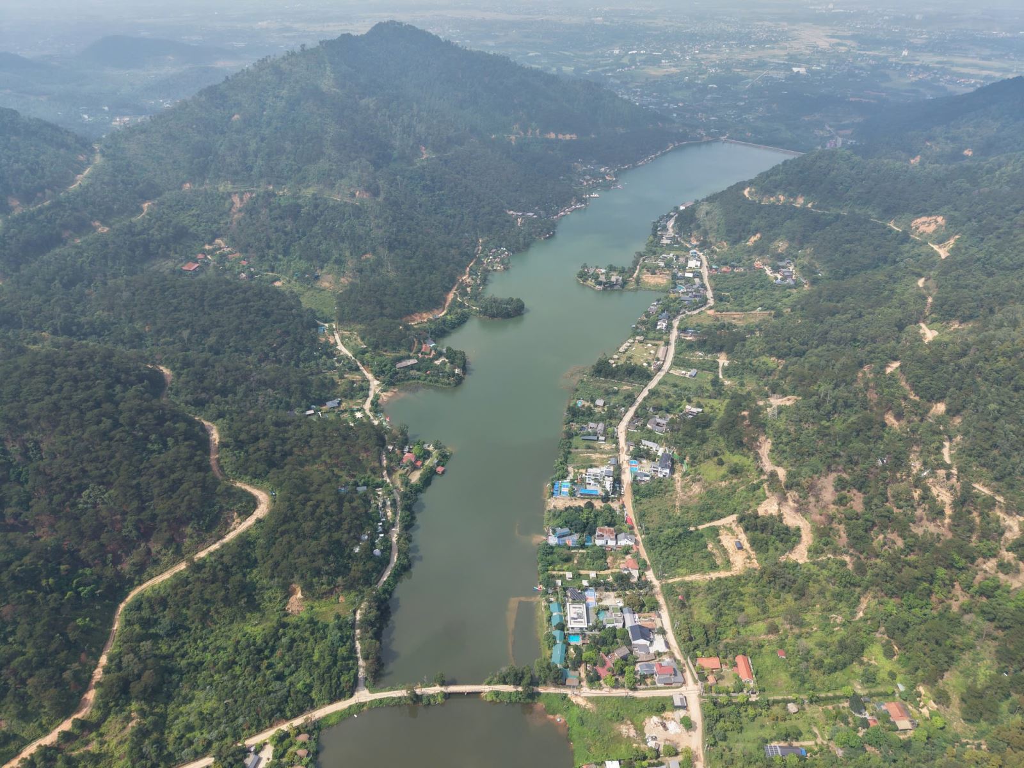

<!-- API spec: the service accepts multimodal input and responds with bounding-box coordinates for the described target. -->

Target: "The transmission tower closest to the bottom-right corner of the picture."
[768,391,786,422]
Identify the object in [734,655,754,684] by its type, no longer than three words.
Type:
house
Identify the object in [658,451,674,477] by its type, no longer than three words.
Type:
house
